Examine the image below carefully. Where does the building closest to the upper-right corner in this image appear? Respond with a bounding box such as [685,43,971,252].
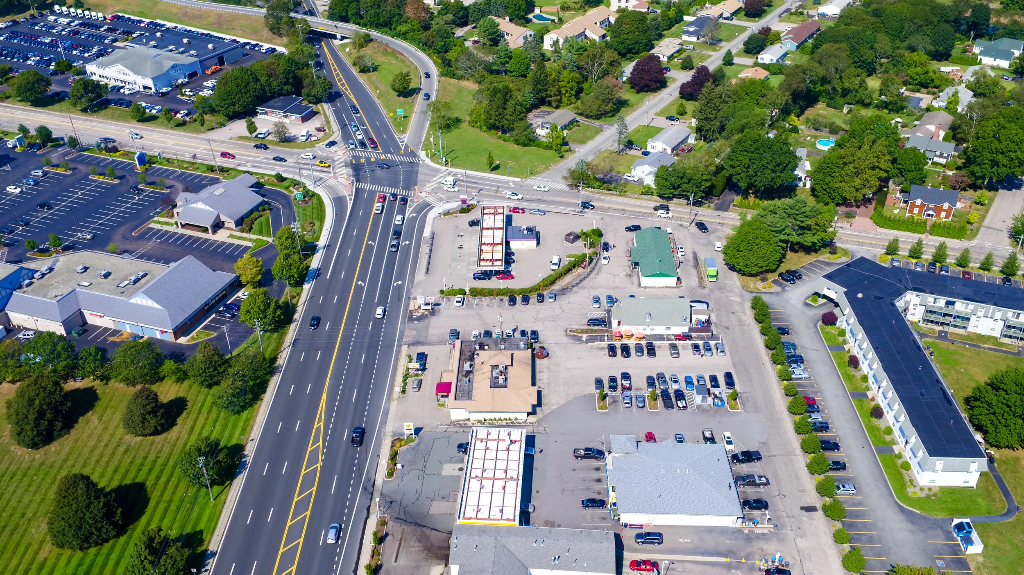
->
[973,41,1024,72]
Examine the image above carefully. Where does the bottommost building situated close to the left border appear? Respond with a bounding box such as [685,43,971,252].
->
[0,248,238,344]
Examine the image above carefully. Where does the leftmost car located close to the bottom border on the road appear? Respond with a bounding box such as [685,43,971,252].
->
[327,524,341,547]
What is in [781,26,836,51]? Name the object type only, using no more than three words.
house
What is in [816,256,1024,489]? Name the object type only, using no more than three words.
building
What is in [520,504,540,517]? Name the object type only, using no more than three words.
vehicle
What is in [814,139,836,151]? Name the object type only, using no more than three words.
swimming pool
